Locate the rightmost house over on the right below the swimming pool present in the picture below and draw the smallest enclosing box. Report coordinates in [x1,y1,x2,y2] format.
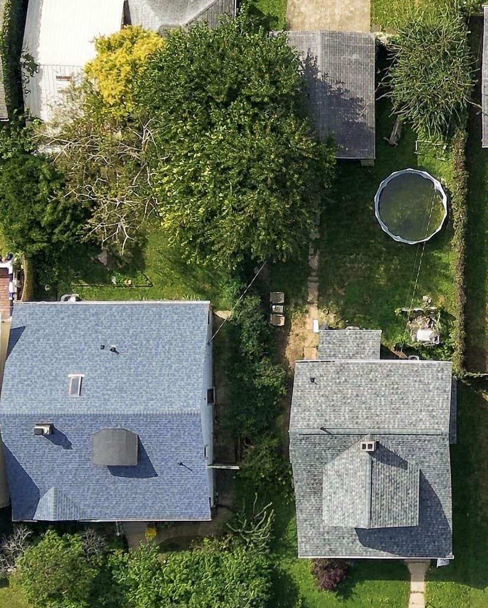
[288,329,457,566]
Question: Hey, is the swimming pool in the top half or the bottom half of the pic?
top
